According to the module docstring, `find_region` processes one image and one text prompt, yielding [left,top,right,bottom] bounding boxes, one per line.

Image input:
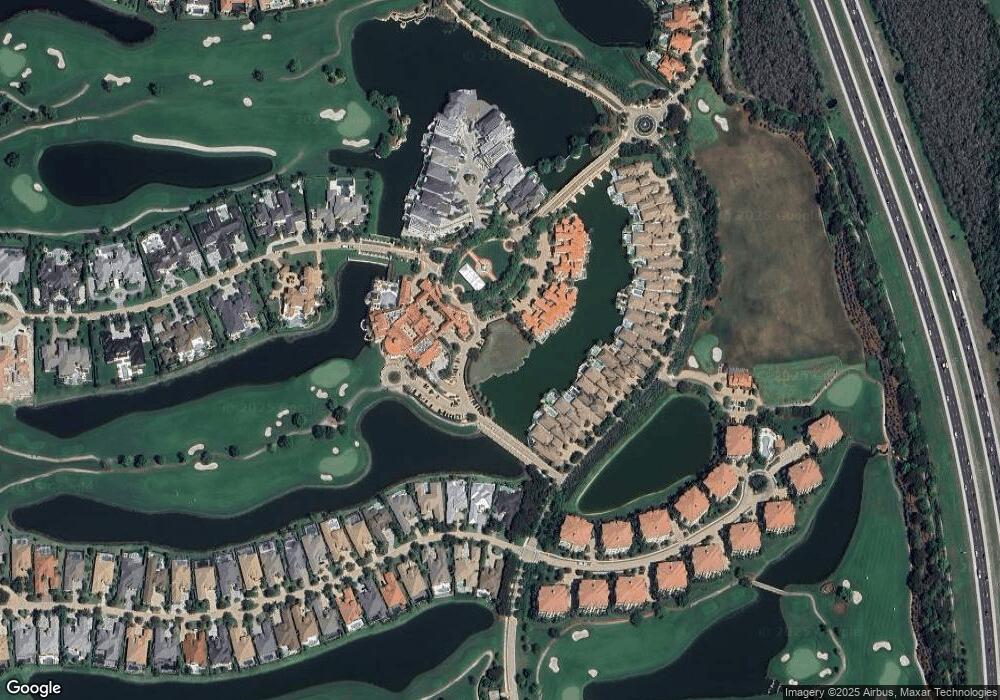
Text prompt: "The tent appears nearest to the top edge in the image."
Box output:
[459,264,485,291]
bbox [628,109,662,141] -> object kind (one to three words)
roundabout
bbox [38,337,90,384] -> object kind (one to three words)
house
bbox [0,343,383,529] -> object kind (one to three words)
golf course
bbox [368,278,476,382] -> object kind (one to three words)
building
